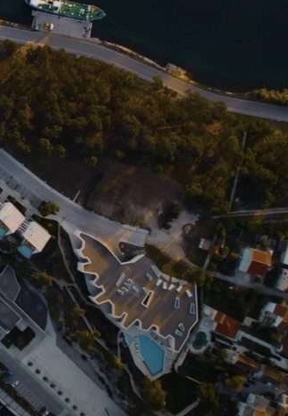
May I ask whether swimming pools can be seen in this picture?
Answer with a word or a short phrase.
Yes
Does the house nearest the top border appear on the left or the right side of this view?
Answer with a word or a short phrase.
left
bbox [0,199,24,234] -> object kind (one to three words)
house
